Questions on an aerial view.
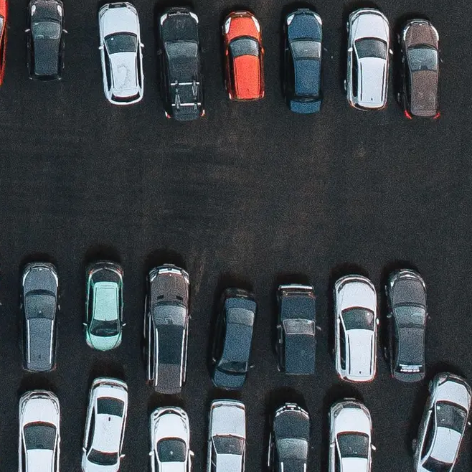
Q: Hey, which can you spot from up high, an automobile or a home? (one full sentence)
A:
Visible in the photo is an automobile.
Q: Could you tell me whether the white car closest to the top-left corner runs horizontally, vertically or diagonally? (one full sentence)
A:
The white car closest to the top-left corner runs vertically in the image.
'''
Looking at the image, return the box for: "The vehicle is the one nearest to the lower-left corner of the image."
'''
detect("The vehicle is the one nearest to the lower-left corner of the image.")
[15,388,64,472]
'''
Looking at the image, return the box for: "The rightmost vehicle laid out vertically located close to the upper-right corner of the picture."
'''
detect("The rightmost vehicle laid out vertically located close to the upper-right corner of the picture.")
[397,20,446,118]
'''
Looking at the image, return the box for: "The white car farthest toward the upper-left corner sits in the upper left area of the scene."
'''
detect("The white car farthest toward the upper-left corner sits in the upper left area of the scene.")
[96,2,146,103]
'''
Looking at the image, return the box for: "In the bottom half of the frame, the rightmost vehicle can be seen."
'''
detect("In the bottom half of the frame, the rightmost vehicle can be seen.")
[413,369,470,472]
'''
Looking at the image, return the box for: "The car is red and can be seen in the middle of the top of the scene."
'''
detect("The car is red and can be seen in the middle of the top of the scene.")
[221,11,268,100]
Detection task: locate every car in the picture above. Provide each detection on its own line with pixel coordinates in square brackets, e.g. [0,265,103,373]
[0,0,11,85]
[276,285,323,381]
[281,8,330,112]
[210,286,259,385]
[96,2,146,103]
[158,7,209,122]
[397,20,446,118]
[144,263,196,392]
[147,404,195,472]
[17,260,63,369]
[81,374,130,472]
[413,369,470,472]
[383,268,433,381]
[15,388,64,472]
[268,400,316,472]
[332,274,383,381]
[205,396,251,472]
[344,8,396,109]
[327,398,378,472]
[221,11,268,100]
[25,0,68,85]
[83,257,129,349]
